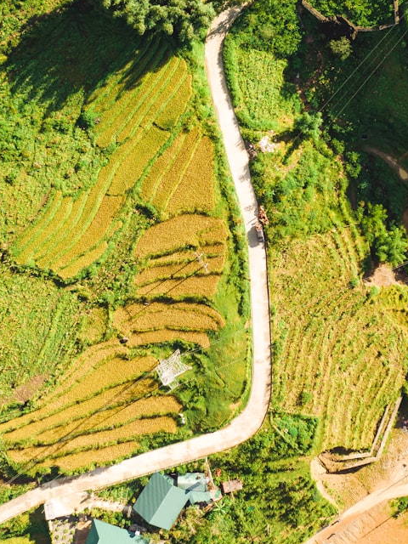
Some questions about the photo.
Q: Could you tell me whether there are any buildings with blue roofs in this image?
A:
No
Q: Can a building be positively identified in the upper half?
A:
No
